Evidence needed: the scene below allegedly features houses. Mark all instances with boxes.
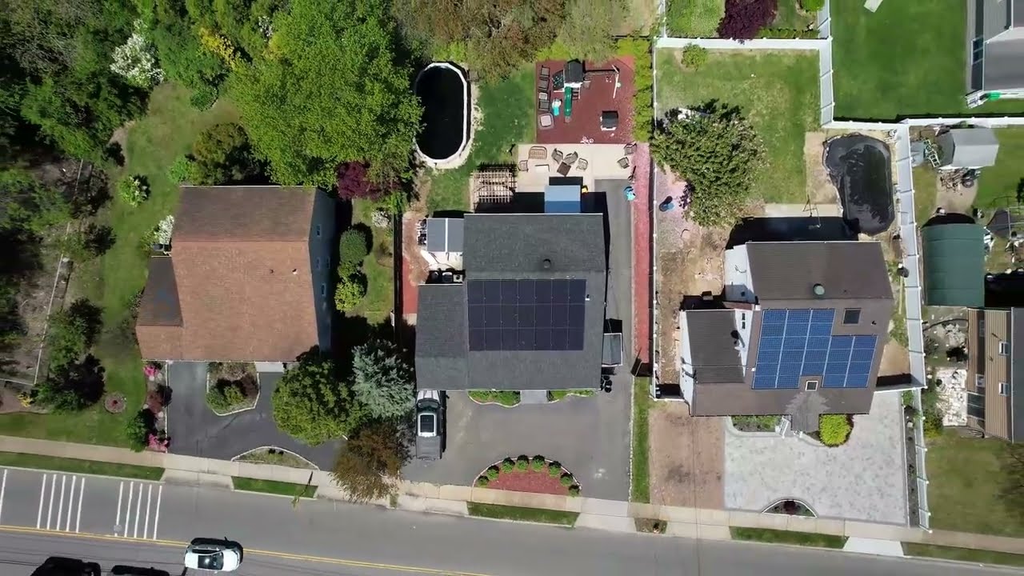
[415,212,623,391]
[683,240,904,433]
[972,0,1024,95]
[966,307,1024,450]
[132,185,329,363]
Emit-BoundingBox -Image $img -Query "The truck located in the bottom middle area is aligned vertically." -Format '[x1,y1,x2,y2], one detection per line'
[414,391,445,460]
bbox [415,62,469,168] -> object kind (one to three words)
swimming pool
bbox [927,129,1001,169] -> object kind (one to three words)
shed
